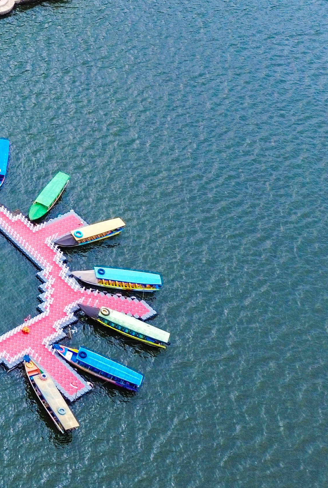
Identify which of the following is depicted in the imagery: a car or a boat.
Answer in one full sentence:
This aerial view contains a boat.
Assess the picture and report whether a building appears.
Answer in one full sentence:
No, I can't see a single building in this photo.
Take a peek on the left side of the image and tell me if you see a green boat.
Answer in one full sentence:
Yes, a green boat can be seen on the left side of the image.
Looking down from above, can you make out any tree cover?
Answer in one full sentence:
No, there is no tree cover in the image.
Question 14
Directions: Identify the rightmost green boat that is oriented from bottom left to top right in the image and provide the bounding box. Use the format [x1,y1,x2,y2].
[32,164,73,220]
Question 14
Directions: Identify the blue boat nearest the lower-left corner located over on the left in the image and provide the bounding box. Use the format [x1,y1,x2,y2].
[53,341,145,386]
